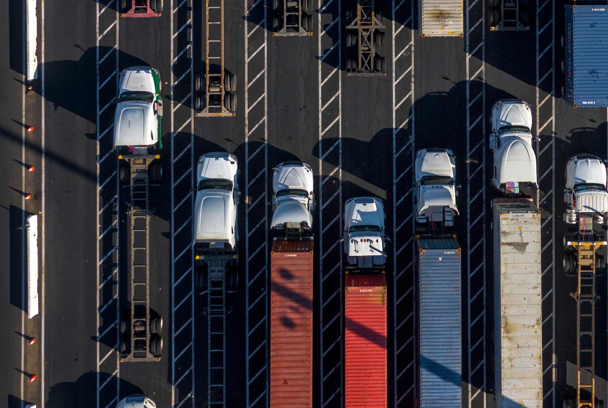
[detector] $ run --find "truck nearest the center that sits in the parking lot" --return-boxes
[267,159,318,239]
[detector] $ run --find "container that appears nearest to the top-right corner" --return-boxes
[564,3,608,108]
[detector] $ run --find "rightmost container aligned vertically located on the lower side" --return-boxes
[494,201,541,408]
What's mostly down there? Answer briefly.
paved ground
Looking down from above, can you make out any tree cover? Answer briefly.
No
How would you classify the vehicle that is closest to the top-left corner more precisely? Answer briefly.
truck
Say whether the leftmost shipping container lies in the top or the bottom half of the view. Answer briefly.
bottom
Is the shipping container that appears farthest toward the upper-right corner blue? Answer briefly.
Yes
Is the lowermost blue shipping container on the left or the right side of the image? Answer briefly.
right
